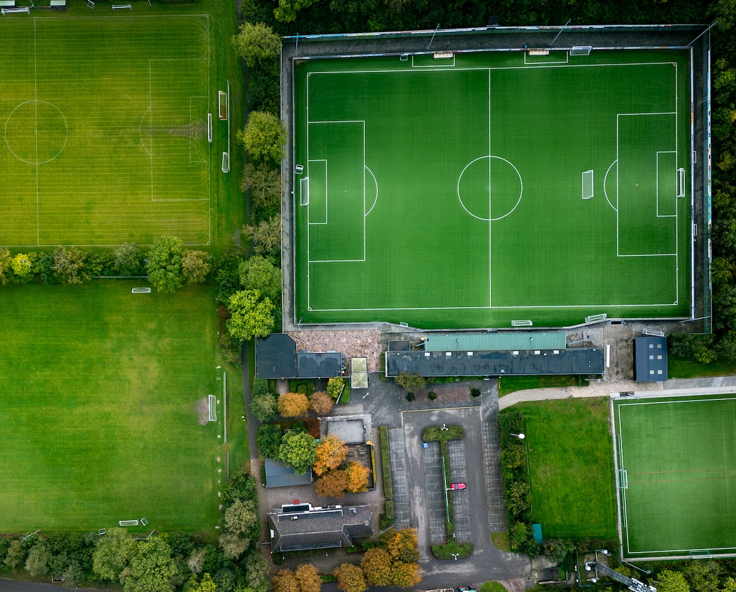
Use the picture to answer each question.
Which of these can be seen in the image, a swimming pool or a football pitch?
football pitch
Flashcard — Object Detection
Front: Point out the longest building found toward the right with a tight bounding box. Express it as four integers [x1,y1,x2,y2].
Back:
[385,348,605,378]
